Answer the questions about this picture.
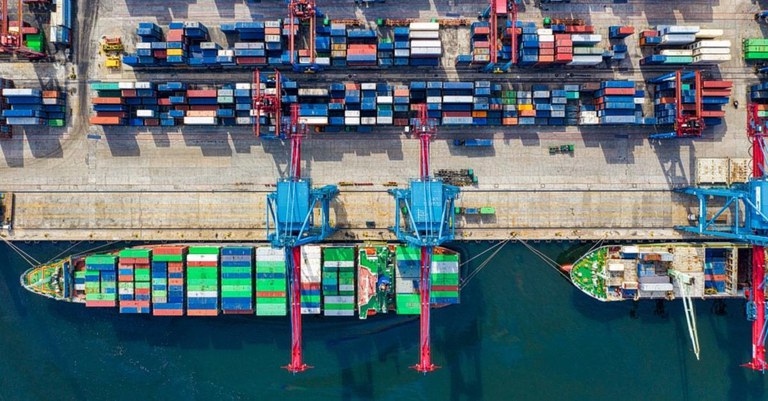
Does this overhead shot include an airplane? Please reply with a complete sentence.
No, there's no airplane here.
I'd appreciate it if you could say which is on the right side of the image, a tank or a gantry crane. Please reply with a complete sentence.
You can see a gantry crane on the right side of the image.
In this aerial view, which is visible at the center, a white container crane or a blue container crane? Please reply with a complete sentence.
Visible at the center is a blue container crane.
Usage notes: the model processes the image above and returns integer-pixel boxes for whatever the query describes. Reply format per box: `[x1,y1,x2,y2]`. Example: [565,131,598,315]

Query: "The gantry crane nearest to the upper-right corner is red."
[646,69,705,141]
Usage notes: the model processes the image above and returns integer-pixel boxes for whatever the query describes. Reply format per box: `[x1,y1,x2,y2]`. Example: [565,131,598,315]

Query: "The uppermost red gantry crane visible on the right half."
[478,0,520,78]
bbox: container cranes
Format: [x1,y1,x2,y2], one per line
[0,0,52,58]
[478,0,520,78]
[252,69,293,141]
[672,103,768,378]
[286,0,324,78]
[265,103,343,378]
[646,69,705,141]
[384,103,455,378]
